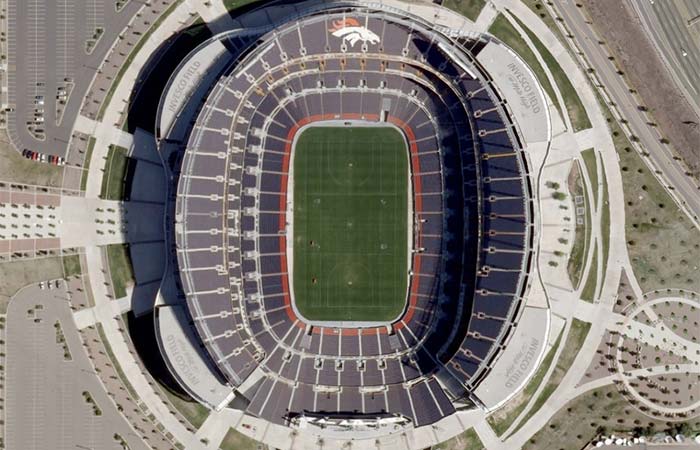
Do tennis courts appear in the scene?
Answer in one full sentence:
No, the frame has no tennis court in it.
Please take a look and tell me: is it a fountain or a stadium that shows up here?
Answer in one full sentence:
It is a stadium that can be seen here.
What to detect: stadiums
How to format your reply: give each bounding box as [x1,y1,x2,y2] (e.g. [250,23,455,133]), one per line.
[154,1,550,432]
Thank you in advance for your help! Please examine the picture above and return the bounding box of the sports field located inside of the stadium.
[287,120,414,328]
